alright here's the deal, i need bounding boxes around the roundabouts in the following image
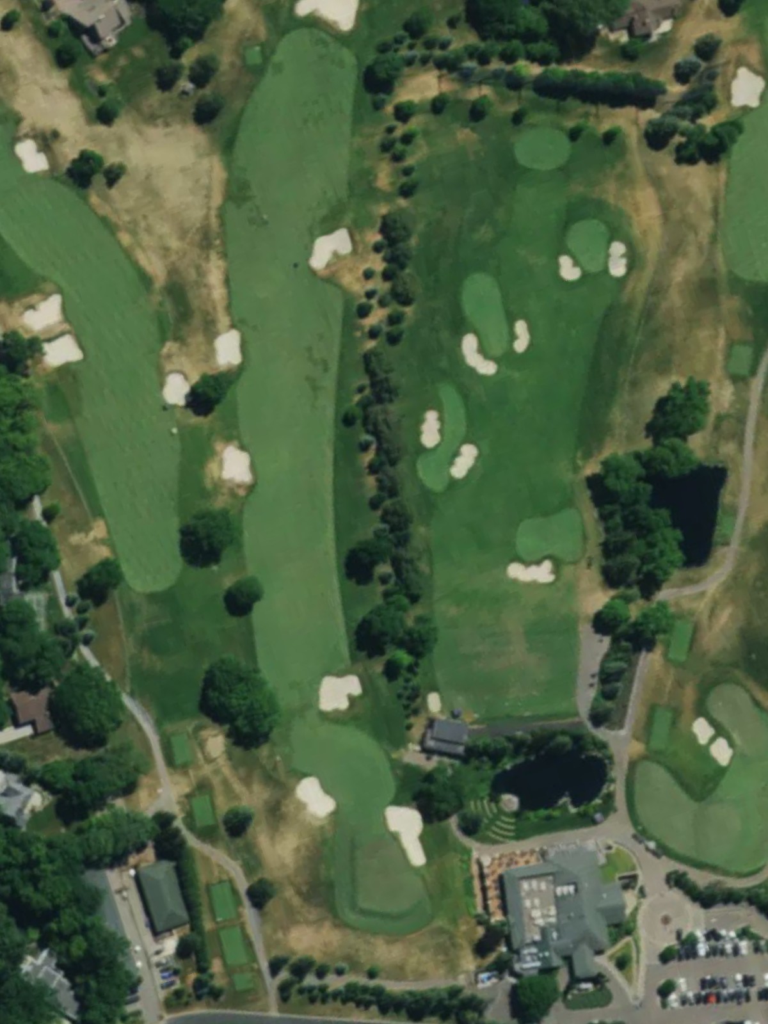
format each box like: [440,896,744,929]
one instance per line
[636,884,696,946]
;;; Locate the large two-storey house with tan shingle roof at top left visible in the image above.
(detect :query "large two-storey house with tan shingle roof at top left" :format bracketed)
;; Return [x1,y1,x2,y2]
[47,0,131,40]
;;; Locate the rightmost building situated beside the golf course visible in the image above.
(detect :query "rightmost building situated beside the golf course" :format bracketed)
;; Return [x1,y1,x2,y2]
[498,848,626,978]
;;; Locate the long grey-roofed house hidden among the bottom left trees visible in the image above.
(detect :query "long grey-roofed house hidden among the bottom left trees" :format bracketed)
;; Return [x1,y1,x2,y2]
[19,949,78,1018]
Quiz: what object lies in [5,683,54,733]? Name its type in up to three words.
house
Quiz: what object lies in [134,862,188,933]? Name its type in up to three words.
barn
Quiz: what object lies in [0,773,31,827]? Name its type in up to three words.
house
